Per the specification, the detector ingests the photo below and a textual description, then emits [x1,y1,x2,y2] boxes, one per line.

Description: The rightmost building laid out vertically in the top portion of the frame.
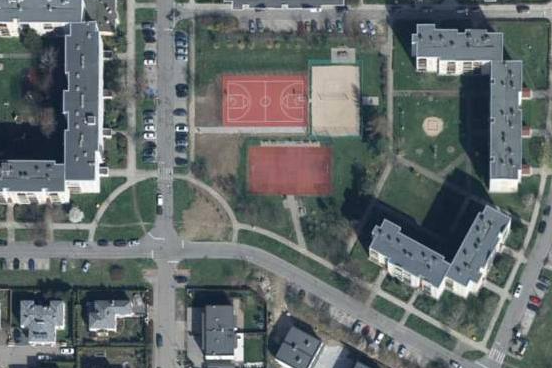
[489,61,528,191]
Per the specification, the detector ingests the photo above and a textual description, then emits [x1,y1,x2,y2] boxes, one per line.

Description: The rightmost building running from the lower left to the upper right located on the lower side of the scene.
[448,206,511,296]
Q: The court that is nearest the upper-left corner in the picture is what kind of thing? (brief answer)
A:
basketball court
